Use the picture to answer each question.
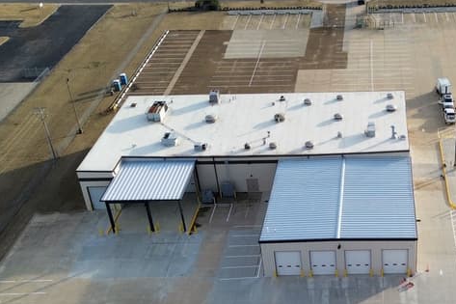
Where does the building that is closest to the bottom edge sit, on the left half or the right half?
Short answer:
right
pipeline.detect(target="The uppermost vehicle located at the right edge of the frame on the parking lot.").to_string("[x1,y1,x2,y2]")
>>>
[435,72,455,107]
